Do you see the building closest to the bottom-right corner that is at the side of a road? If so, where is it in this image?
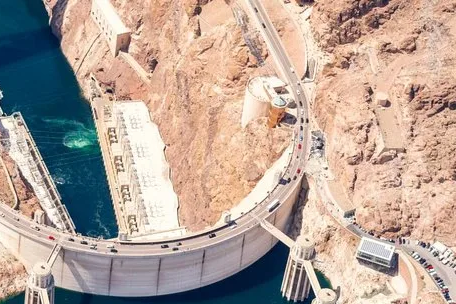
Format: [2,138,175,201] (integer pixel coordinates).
[353,237,395,274]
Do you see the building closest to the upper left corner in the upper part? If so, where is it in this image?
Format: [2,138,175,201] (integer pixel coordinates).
[78,0,131,55]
